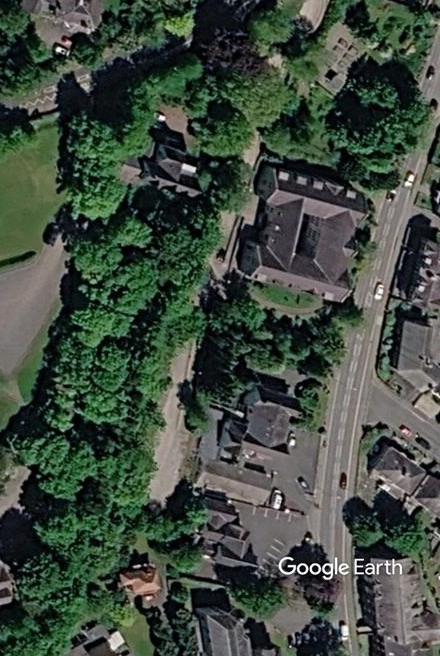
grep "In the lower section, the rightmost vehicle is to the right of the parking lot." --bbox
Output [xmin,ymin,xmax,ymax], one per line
[415,436,430,449]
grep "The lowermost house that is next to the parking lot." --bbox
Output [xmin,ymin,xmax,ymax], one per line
[192,604,275,656]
